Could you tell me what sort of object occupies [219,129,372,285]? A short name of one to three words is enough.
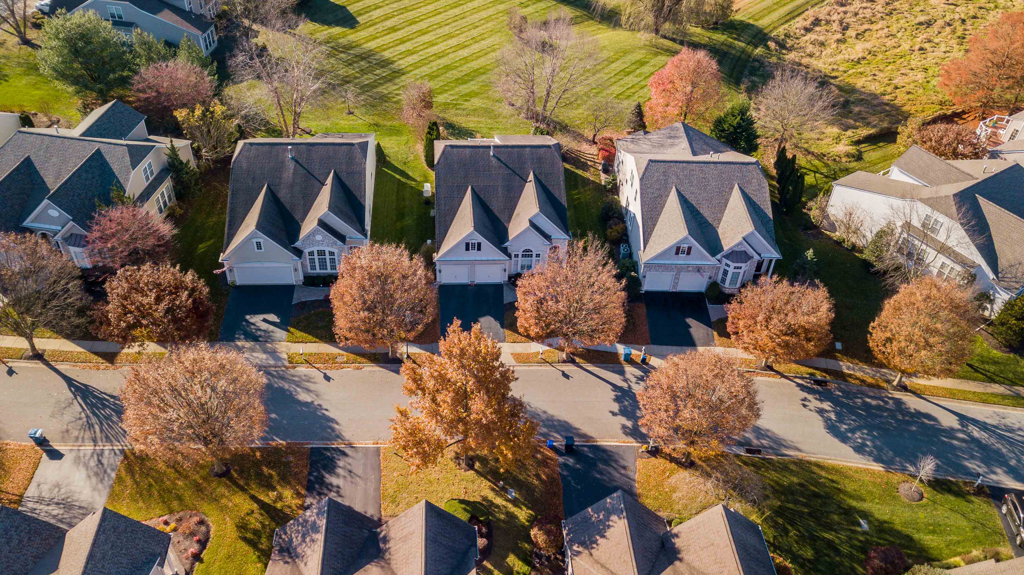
house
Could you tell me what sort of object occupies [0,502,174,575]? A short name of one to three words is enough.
house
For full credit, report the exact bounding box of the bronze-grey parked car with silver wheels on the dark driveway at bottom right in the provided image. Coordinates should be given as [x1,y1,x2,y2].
[1001,492,1024,549]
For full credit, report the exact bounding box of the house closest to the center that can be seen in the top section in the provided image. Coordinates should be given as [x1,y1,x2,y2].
[432,137,572,284]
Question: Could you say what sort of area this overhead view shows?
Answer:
residential area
